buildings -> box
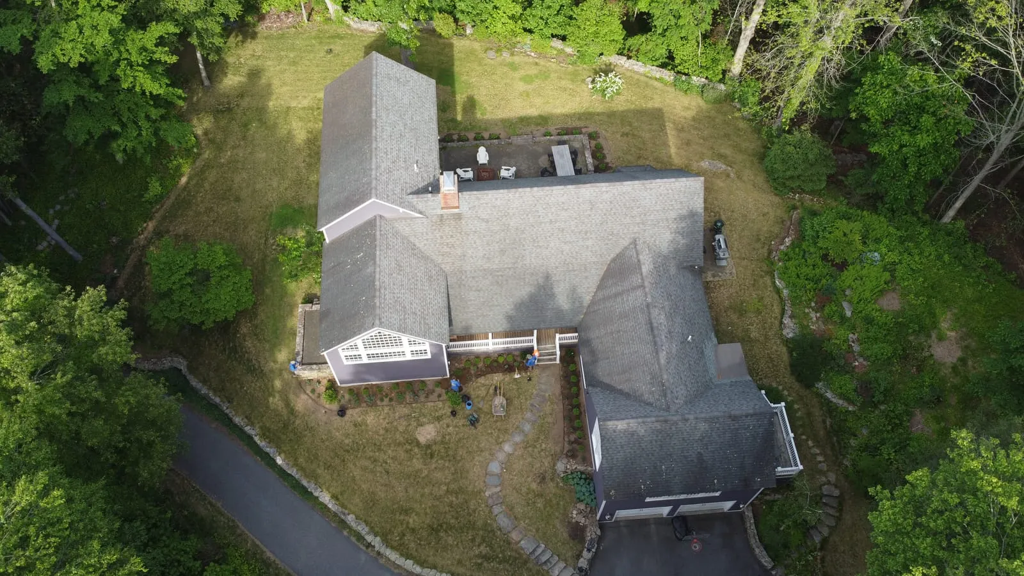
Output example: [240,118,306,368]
[316,52,805,520]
